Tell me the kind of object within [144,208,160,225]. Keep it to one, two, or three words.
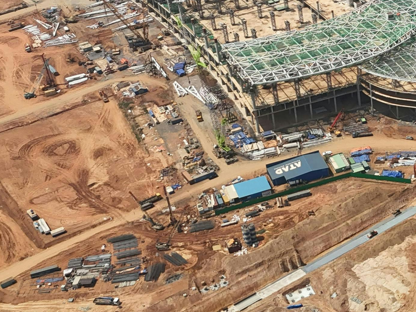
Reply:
work vehicle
